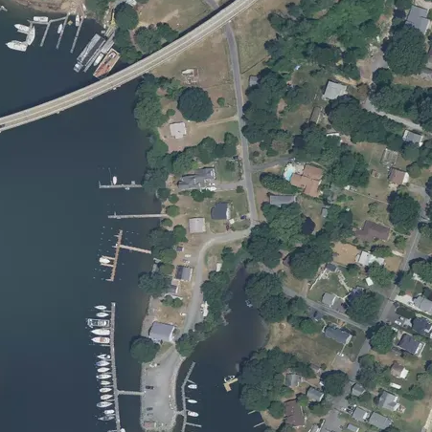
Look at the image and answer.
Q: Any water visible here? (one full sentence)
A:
Yes, water can be seen from above here.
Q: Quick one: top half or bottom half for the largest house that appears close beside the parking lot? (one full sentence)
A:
Seen from above, the largest house that appears close beside the parking lot lies in the bottom half of the view.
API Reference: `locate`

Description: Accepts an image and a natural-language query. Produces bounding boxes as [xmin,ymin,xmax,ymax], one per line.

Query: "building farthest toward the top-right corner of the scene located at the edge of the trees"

[405,4,429,28]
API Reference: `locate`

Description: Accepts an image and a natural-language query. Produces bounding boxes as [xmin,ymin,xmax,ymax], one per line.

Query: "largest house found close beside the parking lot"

[147,321,175,344]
